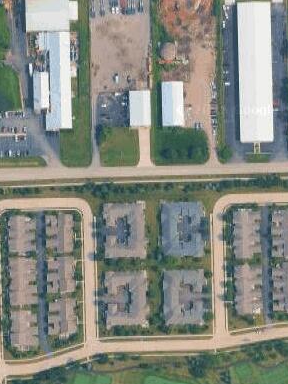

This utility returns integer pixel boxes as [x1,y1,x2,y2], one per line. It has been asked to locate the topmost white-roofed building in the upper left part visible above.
[25,0,79,32]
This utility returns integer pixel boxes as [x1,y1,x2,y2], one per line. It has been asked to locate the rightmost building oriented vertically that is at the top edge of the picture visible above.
[238,3,273,143]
